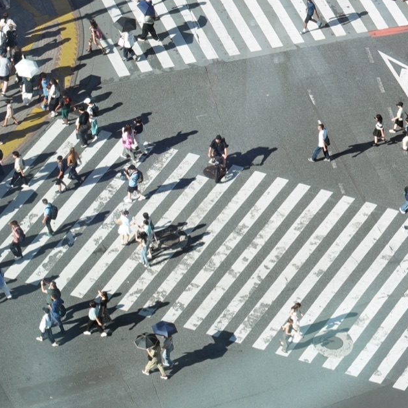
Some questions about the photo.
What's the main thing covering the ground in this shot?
paved ground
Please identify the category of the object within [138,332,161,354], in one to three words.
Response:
umbrella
